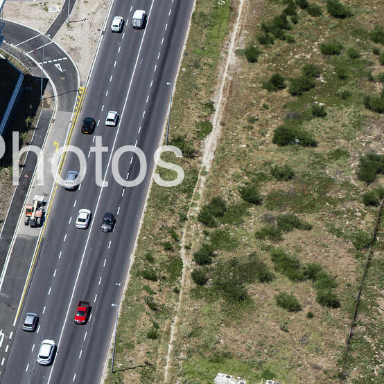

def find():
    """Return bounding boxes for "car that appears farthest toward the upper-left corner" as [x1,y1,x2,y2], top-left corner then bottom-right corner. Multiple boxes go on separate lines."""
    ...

[111,18,124,32]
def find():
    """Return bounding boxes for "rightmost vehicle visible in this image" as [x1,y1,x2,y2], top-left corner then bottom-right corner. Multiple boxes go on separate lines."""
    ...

[131,10,146,29]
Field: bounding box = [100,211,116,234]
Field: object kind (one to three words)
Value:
car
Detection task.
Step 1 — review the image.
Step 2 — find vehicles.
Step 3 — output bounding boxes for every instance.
[75,209,91,230]
[111,18,124,32]
[81,118,95,135]
[74,297,92,327]
[26,195,45,223]
[100,211,116,234]
[105,111,119,128]
[22,312,39,333]
[38,340,56,366]
[131,10,146,29]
